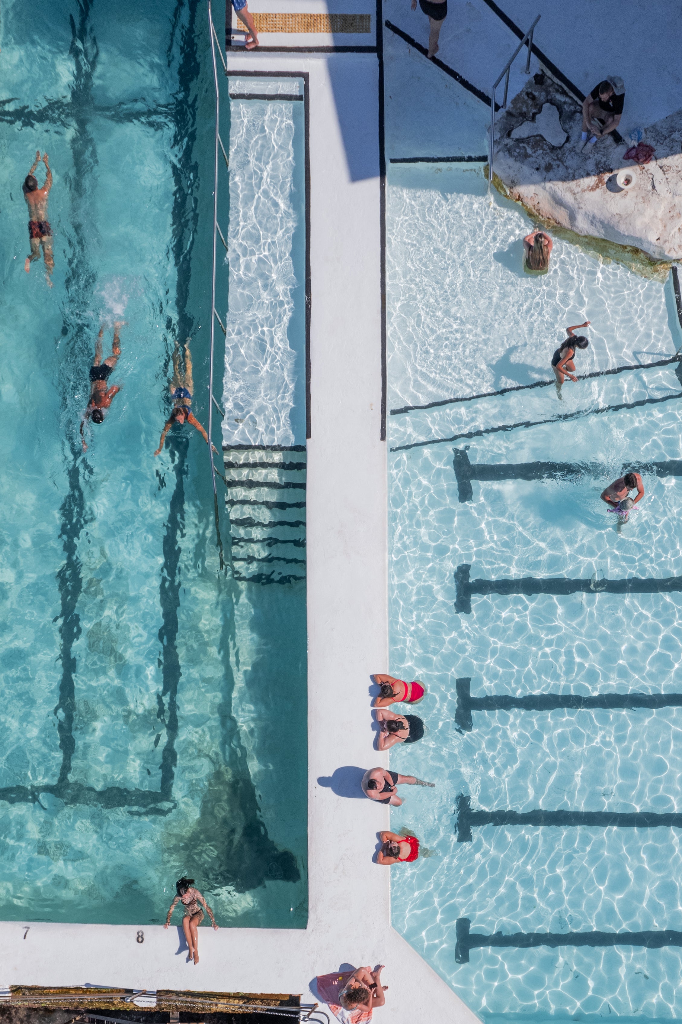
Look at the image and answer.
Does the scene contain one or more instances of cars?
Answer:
No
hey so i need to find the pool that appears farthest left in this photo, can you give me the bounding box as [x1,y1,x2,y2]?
[0,0,308,929]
